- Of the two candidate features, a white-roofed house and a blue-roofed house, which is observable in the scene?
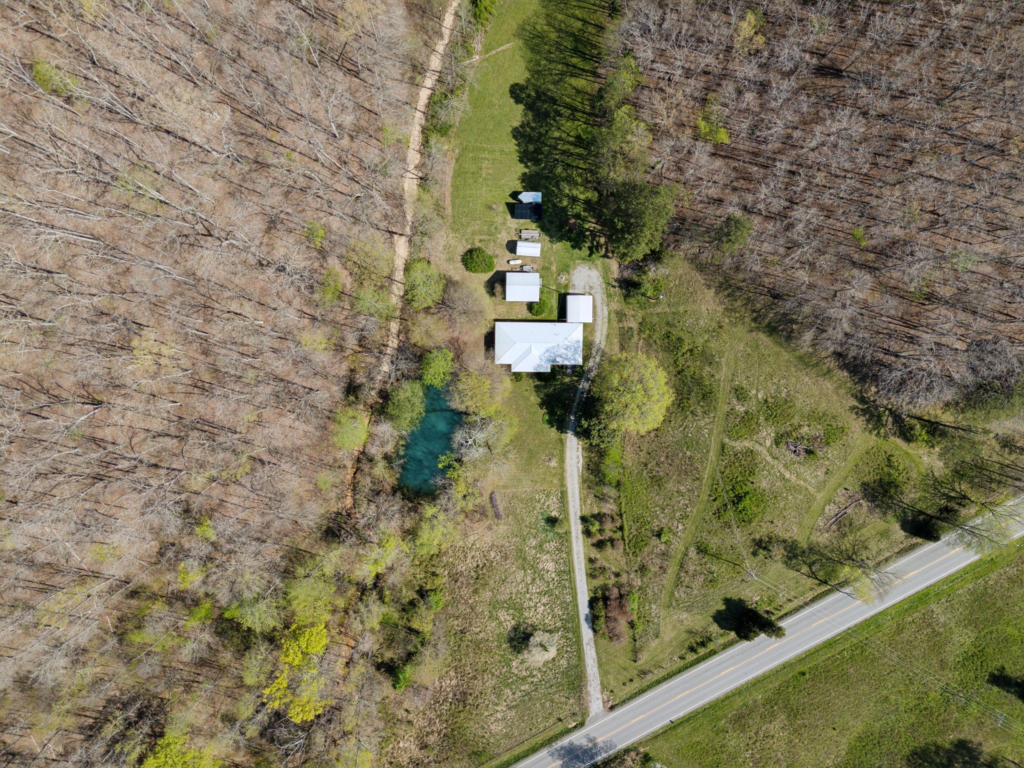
white-roofed house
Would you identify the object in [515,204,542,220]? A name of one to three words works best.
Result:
solar array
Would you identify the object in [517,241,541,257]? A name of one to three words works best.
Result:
shed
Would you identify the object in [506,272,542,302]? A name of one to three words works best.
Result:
building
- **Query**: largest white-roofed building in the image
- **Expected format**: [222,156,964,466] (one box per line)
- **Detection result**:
[495,322,583,373]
